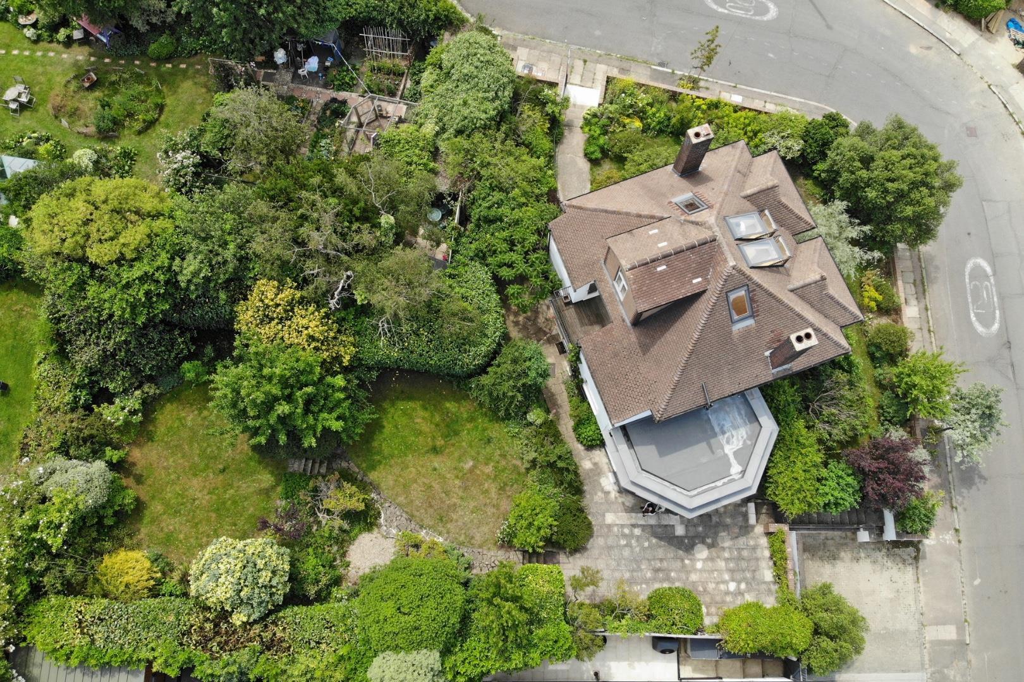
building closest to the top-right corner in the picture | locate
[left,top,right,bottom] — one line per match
[545,120,866,519]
